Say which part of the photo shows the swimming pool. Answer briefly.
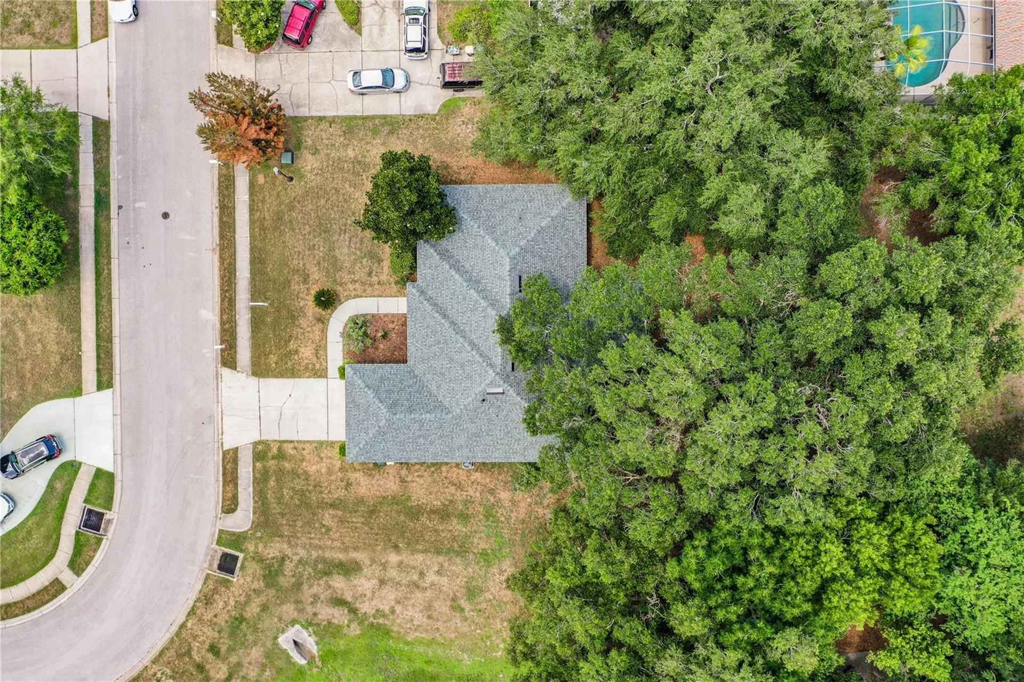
top right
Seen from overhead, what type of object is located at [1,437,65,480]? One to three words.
car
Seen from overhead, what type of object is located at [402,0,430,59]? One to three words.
car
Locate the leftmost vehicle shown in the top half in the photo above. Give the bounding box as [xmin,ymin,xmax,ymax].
[110,0,139,23]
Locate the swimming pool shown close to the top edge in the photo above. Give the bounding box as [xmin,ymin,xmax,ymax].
[888,0,978,87]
